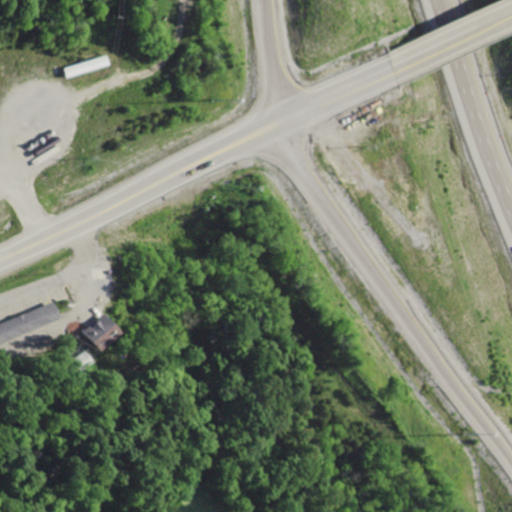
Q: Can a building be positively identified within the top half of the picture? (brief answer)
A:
No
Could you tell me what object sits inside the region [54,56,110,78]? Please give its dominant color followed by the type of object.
white truck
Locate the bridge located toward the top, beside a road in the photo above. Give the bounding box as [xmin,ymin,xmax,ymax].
[382,0,512,90]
